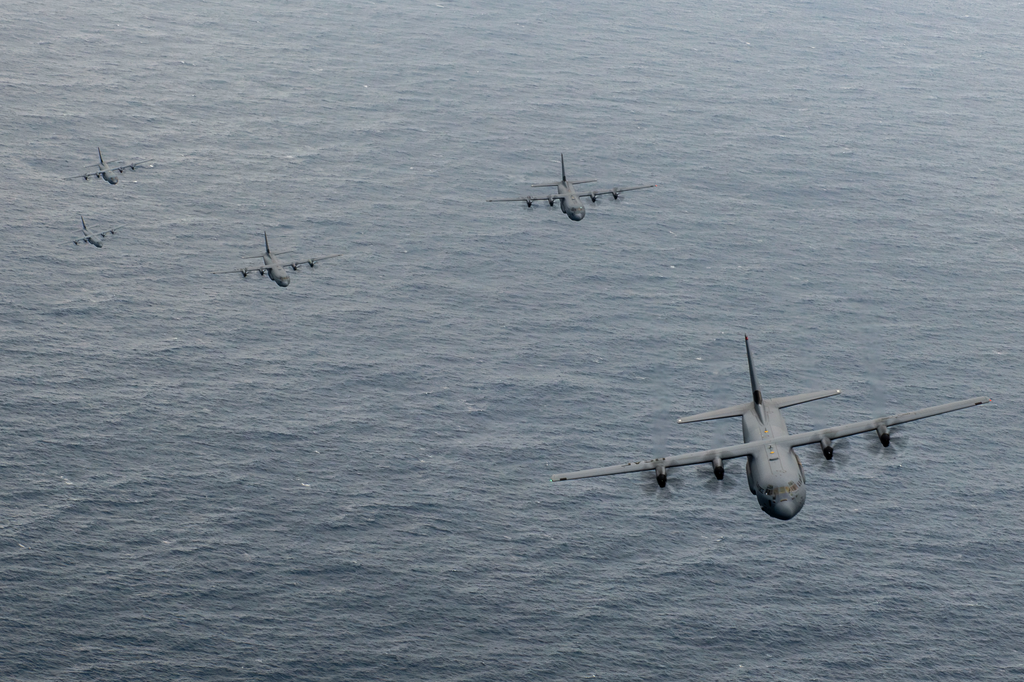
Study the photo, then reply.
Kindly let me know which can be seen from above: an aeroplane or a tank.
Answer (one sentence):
There is an aeroplane in the scene.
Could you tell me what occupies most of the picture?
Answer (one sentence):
Most of the picture is covered by water.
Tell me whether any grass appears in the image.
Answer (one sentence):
No, no grass is visible.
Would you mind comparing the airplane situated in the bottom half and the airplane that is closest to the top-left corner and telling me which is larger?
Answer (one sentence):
The airplane situated in the bottom half covers a greater area than the airplane that is closest to the top-left corner.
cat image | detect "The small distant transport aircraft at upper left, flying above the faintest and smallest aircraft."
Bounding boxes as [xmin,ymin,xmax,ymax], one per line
[61,146,153,184]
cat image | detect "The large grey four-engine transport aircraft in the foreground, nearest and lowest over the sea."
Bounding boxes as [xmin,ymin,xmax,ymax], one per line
[550,331,990,521]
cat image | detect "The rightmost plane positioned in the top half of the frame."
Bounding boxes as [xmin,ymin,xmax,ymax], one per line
[485,153,656,221]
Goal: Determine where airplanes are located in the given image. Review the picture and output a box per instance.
[209,230,342,287]
[56,215,128,247]
[485,153,656,221]
[61,146,153,184]
[550,331,990,521]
